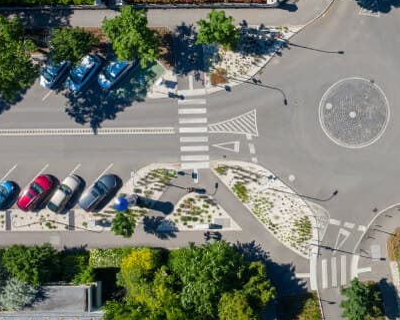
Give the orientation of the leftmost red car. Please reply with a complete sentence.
What the image shows is the leftmost red car lying on a diagonal.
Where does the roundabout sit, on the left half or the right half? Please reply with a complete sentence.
It is on the right.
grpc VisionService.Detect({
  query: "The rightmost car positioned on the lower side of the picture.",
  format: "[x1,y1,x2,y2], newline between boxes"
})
[78,173,120,215]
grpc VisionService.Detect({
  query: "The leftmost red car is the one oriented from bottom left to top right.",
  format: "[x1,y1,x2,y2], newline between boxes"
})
[19,173,58,213]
